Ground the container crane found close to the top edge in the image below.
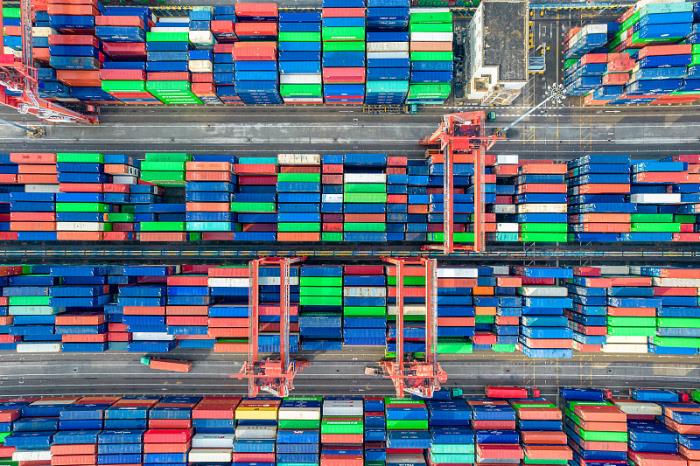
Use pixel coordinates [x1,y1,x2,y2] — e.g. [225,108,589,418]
[0,0,96,126]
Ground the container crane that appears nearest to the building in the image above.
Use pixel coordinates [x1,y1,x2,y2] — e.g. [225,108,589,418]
[414,103,497,251]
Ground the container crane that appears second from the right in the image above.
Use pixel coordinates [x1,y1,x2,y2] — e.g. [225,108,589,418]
[372,258,446,400]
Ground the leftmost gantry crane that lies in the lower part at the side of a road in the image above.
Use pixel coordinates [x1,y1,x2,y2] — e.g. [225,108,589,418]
[230,258,313,400]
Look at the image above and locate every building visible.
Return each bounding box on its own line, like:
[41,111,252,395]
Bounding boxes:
[468,1,528,105]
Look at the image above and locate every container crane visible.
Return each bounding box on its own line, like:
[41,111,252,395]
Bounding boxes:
[414,103,497,251]
[230,258,313,400]
[0,0,96,126]
[372,258,446,400]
